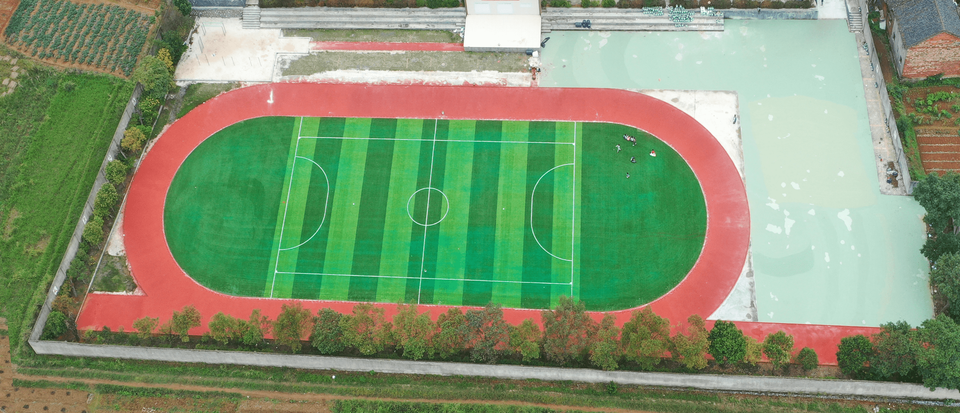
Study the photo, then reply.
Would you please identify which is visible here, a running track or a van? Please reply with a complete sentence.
Of the two, only a running track appears.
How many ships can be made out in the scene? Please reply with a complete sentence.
I count no ships.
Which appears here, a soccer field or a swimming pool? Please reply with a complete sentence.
It is a soccer field that can be seen here.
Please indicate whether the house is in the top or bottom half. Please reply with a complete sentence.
The top half of the photo is where the house is.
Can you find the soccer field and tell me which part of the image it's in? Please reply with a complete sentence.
The soccer field appears toward the center of the photo.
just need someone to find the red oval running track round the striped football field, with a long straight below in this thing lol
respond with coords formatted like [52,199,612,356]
[77,82,916,365]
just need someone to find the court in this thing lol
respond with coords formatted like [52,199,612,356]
[538,18,933,327]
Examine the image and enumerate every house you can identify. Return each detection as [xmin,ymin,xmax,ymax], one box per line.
[878,0,960,78]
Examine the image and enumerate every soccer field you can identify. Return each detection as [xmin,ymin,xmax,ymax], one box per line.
[164,116,707,312]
